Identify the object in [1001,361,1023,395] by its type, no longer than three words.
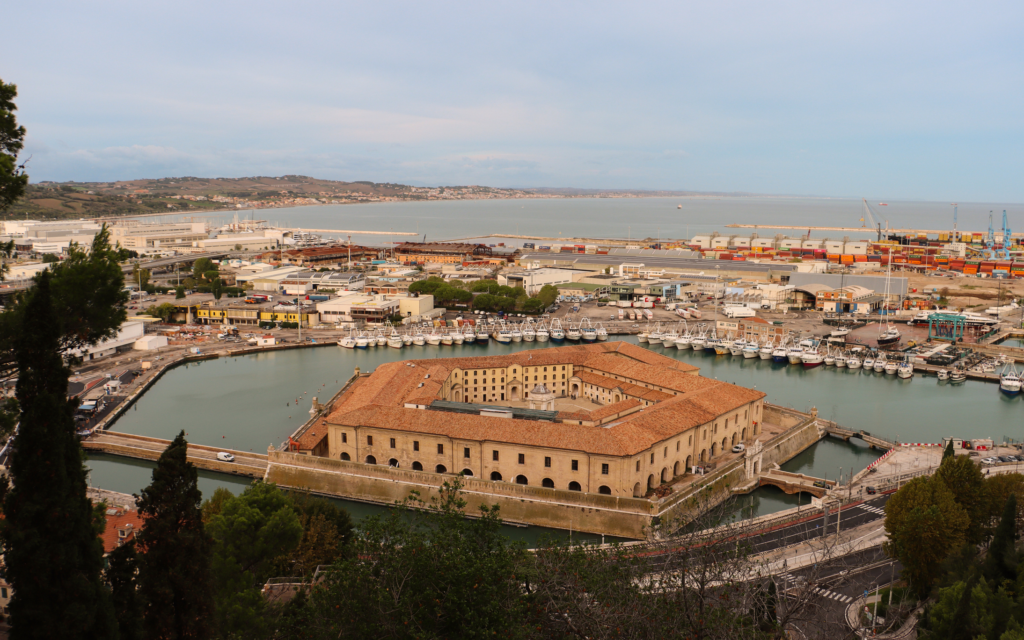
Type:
boat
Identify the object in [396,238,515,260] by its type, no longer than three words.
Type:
hangar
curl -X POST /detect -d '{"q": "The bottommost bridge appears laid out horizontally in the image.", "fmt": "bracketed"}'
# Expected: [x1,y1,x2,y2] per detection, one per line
[759,477,835,504]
